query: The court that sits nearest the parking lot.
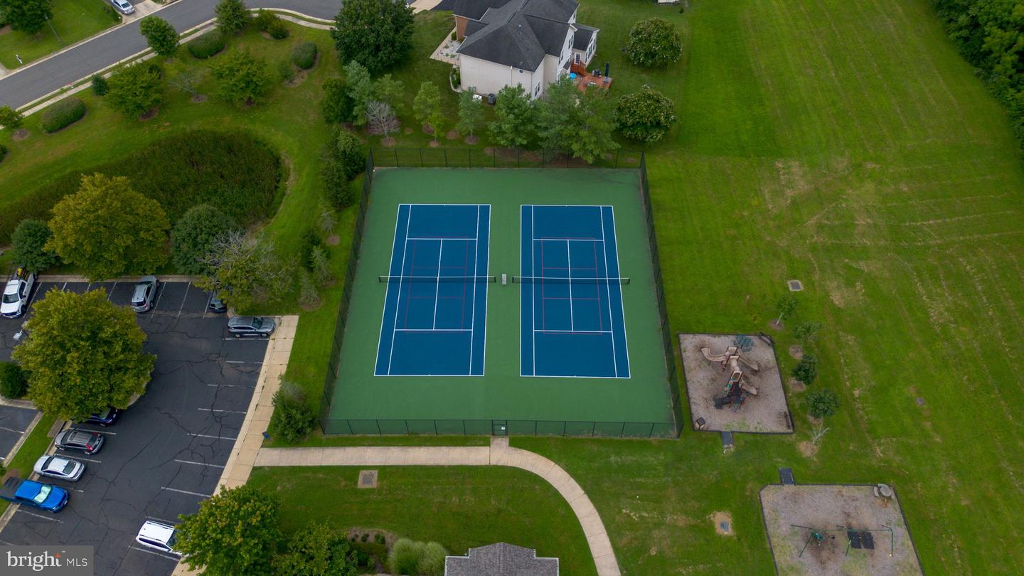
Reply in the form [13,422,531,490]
[374,204,490,376]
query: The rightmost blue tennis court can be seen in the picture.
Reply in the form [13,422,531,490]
[520,205,630,378]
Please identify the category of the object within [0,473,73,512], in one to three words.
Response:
vehicle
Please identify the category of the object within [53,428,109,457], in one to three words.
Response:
car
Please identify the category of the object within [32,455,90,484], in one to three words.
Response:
car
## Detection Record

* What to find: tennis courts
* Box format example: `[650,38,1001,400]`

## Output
[374,204,490,376]
[520,205,630,378]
